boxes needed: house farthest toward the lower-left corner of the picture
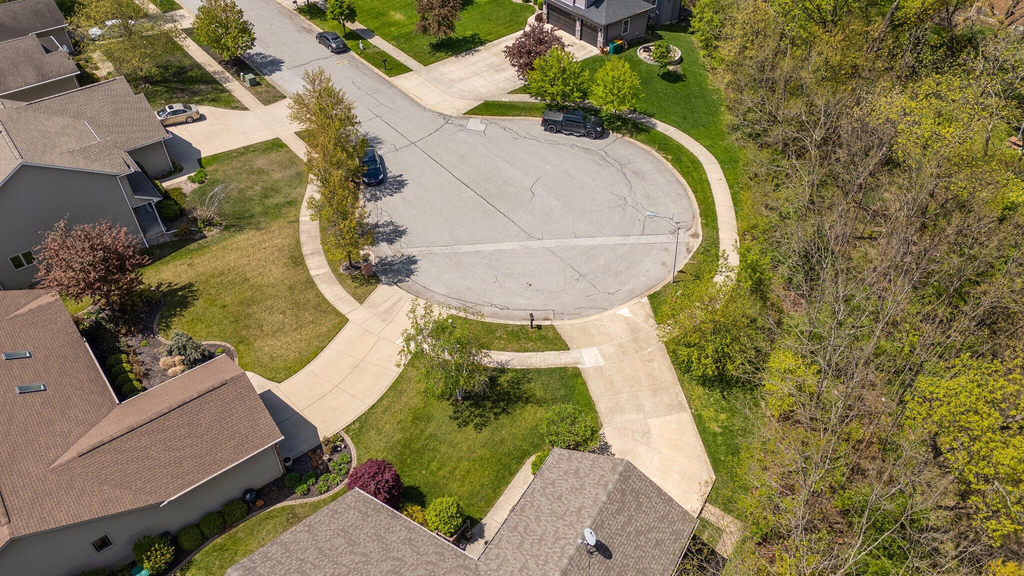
[0,289,286,576]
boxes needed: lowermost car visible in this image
[360,146,385,182]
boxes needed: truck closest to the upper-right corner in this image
[541,107,606,139]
